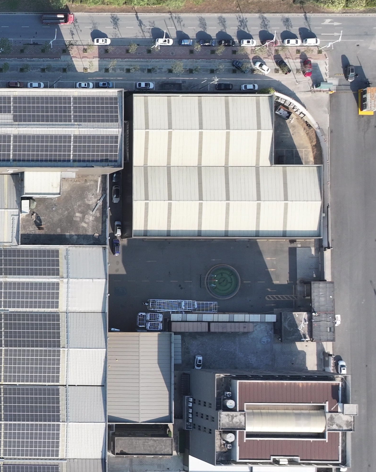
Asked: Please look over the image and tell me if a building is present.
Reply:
Yes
